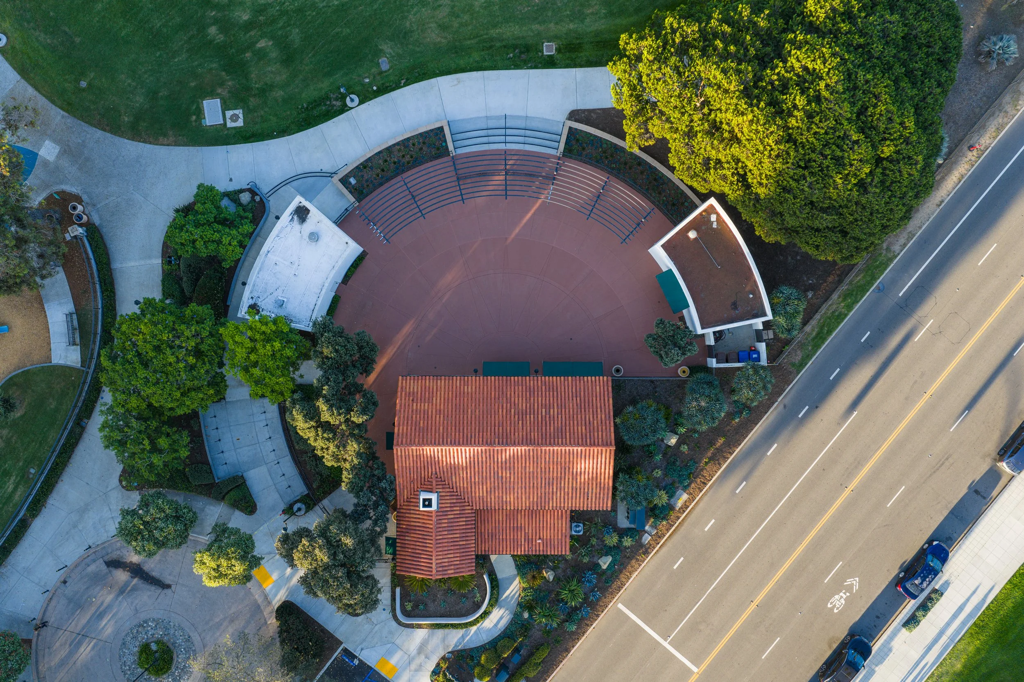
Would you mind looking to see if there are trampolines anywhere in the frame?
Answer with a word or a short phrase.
No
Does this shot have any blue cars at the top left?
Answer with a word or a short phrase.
No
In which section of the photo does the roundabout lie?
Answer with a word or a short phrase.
bottom left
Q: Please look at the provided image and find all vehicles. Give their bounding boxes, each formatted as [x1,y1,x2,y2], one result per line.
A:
[821,639,876,682]
[897,542,954,605]
[1002,432,1024,477]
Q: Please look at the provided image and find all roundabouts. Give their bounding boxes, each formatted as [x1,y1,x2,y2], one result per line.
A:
[40,542,273,682]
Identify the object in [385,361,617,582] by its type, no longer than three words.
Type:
building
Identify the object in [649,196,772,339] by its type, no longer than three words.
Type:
building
